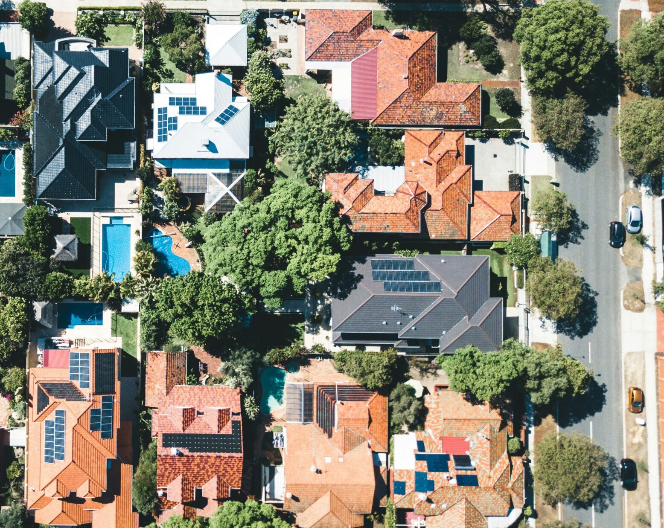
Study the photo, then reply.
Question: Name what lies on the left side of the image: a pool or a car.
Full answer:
Looking on the left side of the image, you will find a pool.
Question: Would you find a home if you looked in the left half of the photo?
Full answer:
Yes, there is a home in the left half of the photo.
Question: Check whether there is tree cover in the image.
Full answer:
Yes, the picture does contain tree cover.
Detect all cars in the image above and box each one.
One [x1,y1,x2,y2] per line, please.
[618,459,637,490]
[625,205,643,235]
[607,221,625,249]
[627,386,644,413]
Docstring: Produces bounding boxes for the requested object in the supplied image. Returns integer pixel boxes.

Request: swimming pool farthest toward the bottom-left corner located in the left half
[56,302,105,331]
